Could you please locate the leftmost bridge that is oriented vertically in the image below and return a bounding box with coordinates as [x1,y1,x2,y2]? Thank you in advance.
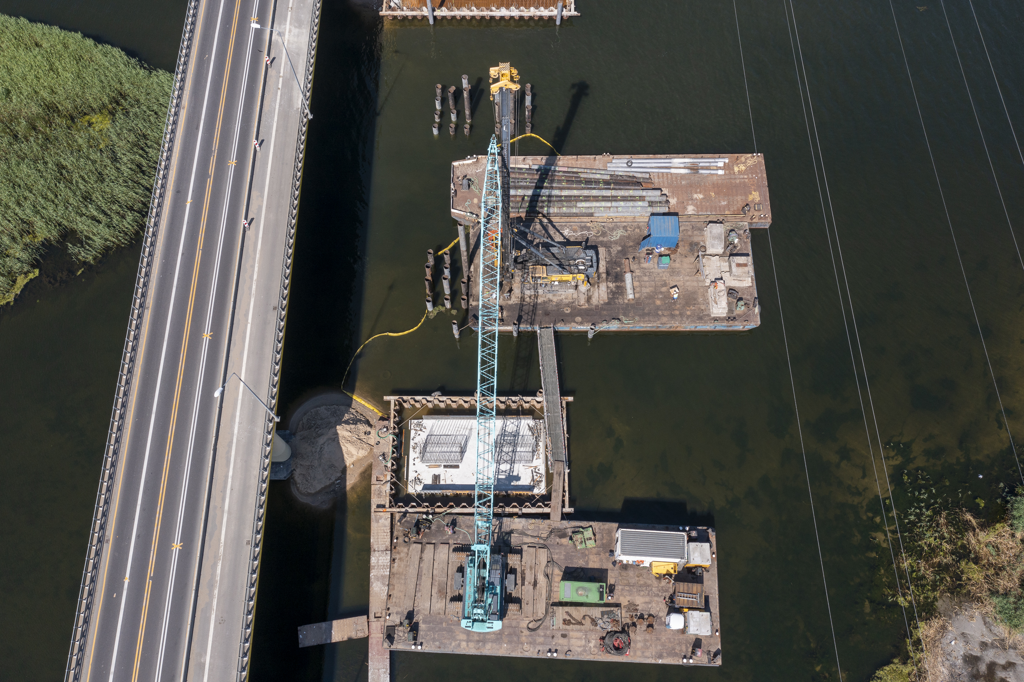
[63,0,324,682]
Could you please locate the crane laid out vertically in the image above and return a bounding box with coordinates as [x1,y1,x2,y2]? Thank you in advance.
[446,130,521,630]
